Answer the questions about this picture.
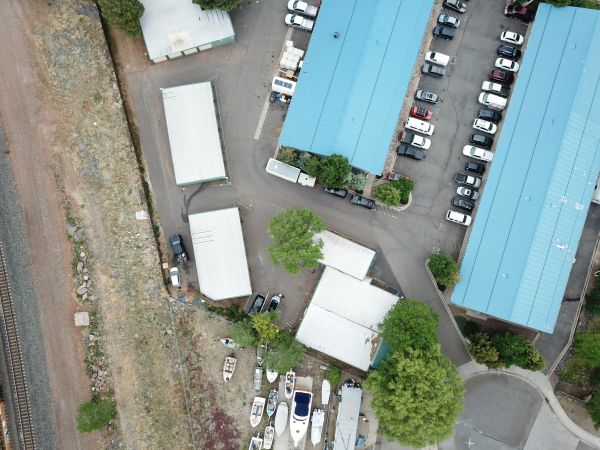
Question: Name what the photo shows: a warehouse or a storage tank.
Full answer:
It is a warehouse that can be seen here.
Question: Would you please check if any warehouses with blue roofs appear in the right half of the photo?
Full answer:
Yes, a warehouse with a blue roof appears in the right half of the photo.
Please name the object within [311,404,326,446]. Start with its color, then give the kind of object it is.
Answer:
white boat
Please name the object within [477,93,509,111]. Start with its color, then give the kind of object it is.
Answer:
white vehicle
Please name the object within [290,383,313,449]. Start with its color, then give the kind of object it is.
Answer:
white boat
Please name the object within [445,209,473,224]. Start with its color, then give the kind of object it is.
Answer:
white car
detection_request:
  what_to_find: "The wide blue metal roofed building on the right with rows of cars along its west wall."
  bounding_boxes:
[451,3,600,335]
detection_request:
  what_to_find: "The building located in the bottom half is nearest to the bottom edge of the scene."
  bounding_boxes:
[296,265,400,373]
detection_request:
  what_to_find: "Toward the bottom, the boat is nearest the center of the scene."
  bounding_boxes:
[265,294,281,315]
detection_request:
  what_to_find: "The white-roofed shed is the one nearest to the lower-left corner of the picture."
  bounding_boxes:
[188,207,254,301]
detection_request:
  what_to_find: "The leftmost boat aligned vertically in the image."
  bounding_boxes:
[224,352,237,380]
